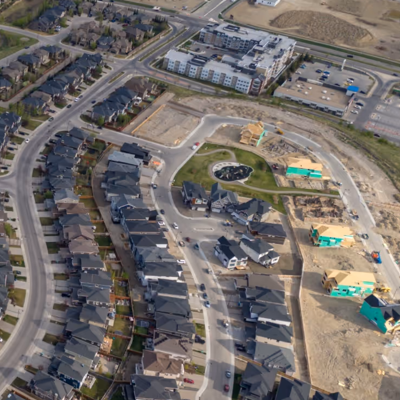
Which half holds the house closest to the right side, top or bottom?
bottom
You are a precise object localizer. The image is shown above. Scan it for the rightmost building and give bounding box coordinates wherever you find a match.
[357,302,400,332]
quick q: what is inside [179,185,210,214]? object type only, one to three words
house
